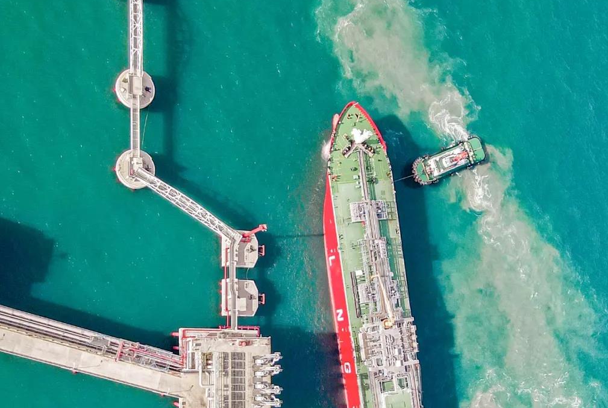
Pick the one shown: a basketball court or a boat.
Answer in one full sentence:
Of the two, only a boat appears.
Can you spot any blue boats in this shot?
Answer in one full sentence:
No, no blue boat is visible in the scene.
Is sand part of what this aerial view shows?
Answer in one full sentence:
No, no sand is visible.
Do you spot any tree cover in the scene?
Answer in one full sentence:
No, no tree cover is visible.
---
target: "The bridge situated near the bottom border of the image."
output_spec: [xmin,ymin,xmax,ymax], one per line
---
[0,323,182,397]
